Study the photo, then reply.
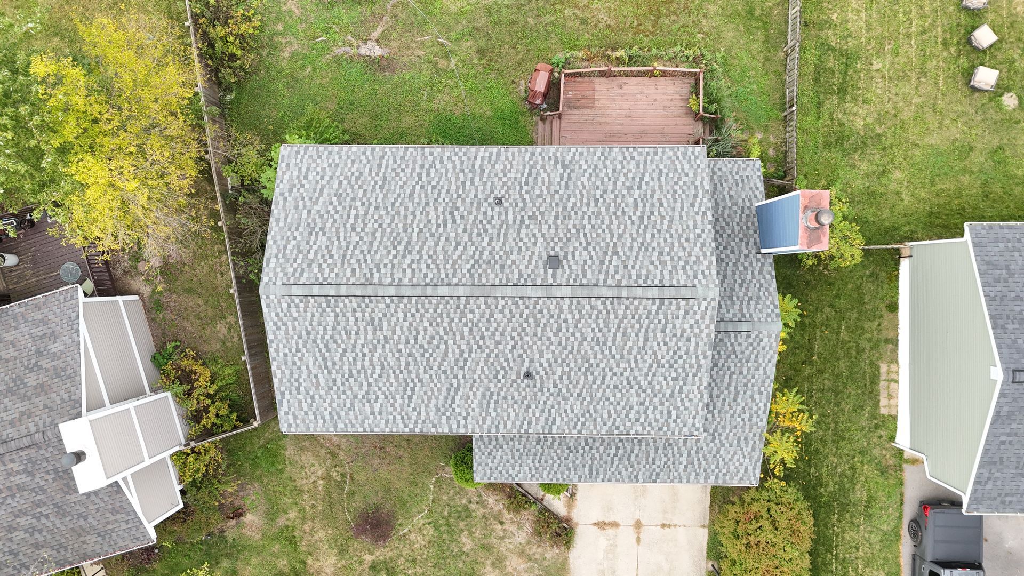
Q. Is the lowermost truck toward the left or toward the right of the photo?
right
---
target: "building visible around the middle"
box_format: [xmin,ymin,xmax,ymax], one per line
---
[260,142,835,489]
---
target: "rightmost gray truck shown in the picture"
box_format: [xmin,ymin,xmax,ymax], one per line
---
[903,496,986,576]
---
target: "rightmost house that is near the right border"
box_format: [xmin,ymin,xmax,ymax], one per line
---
[883,220,1024,517]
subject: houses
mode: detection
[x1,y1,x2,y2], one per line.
[883,220,1024,517]
[0,283,200,576]
[260,142,835,489]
